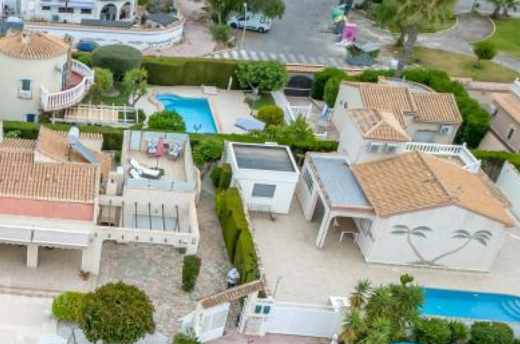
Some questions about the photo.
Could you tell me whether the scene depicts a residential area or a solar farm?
residential area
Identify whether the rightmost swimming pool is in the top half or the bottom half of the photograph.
bottom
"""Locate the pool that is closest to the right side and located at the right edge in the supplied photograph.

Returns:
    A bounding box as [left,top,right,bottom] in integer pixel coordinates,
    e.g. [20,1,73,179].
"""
[411,282,520,327]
